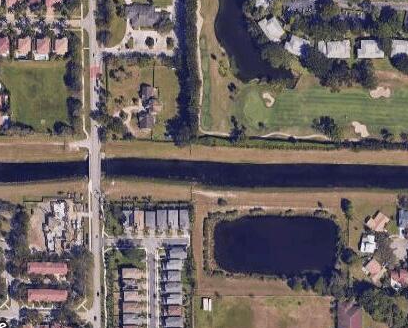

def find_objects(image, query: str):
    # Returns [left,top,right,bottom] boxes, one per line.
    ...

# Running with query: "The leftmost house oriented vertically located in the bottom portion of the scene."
[47,202,66,250]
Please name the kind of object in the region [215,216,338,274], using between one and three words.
pond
